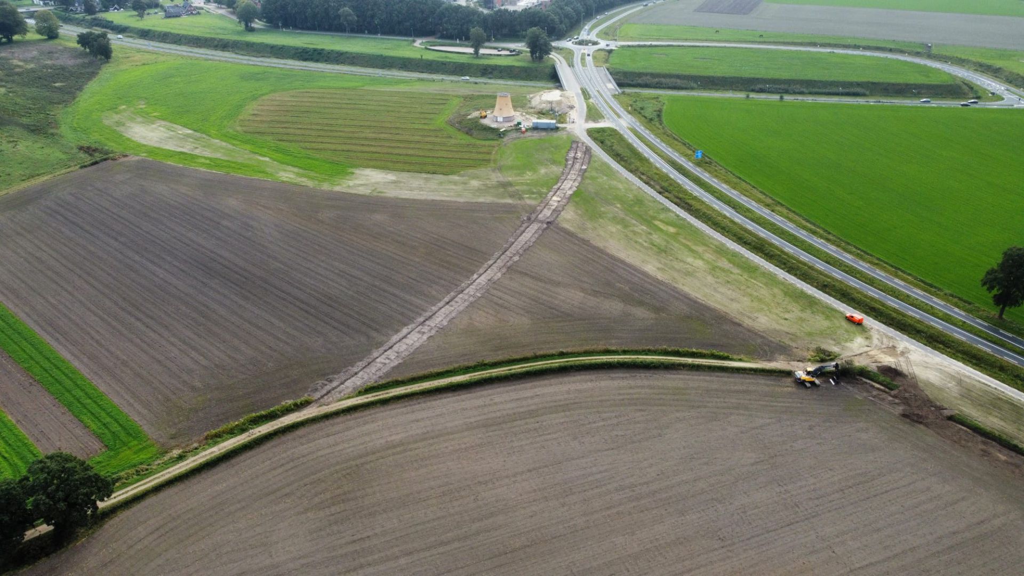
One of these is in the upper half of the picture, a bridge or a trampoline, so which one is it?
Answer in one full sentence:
It is a bridge that can be seen in the upper half of the picture.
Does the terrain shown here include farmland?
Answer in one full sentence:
Yes, there's farmland in this view.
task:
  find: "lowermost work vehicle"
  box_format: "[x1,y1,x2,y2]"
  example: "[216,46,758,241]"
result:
[795,361,840,385]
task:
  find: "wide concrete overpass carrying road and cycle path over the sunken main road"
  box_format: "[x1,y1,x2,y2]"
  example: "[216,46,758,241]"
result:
[555,60,622,95]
